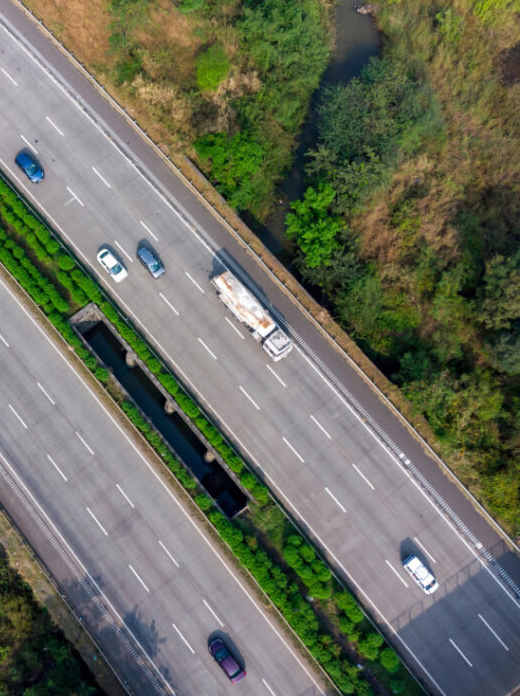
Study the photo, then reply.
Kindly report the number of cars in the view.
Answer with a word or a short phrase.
five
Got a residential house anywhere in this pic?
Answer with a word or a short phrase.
No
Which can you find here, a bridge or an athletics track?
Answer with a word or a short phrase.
bridge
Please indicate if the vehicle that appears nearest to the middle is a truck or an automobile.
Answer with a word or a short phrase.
truck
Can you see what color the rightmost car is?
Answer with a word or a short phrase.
white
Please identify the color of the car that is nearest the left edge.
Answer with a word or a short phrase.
blue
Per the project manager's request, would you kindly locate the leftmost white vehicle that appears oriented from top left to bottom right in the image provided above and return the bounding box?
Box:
[95,246,131,284]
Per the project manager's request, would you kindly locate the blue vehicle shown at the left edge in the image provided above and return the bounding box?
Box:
[12,151,45,185]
